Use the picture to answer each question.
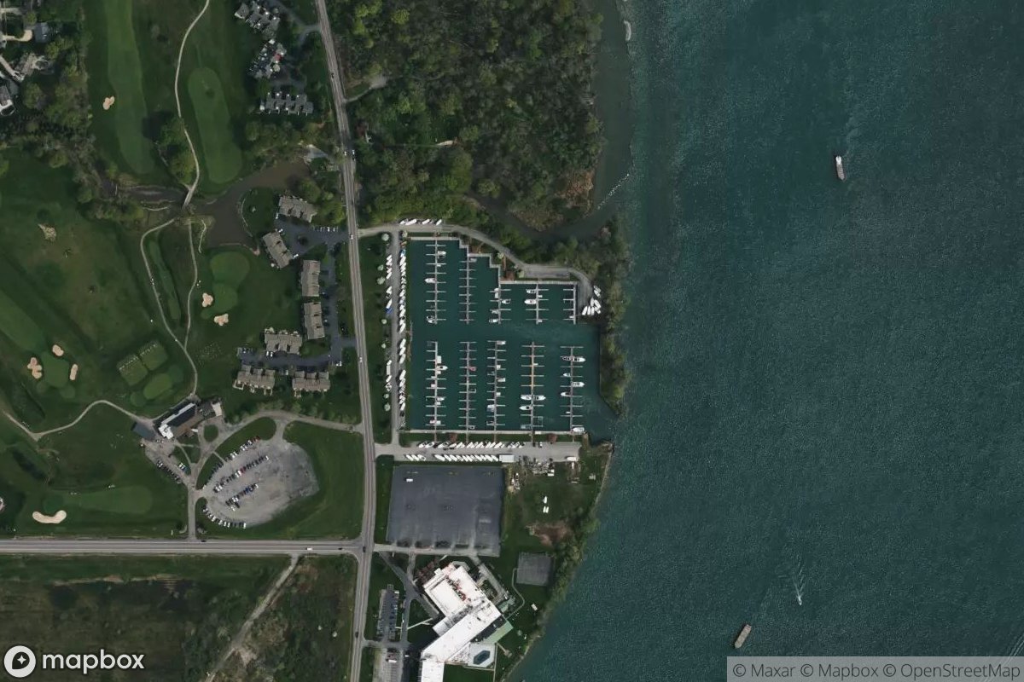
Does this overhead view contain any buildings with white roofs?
Yes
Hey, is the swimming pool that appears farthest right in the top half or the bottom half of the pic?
bottom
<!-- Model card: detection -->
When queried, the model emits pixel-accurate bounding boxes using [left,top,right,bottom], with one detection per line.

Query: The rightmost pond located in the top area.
[94,158,309,249]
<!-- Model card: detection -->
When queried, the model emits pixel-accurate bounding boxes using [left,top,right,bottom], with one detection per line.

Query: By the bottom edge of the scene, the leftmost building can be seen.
[419,562,515,682]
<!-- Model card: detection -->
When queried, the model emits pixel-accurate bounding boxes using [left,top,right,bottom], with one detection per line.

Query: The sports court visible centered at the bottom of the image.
[516,553,551,587]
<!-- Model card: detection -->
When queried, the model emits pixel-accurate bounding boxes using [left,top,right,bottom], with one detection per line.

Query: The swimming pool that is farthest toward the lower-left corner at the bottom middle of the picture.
[470,643,495,668]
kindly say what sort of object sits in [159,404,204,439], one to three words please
building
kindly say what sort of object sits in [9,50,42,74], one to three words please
house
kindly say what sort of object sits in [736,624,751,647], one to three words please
ship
